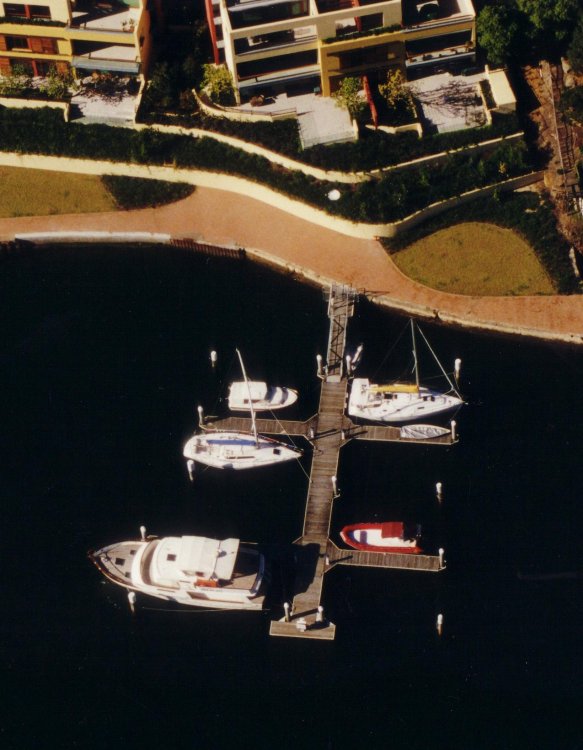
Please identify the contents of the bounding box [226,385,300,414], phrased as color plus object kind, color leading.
white boat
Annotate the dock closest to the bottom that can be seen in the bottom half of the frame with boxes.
[157,375,455,640]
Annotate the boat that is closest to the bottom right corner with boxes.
[339,520,430,553]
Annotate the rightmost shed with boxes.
[485,70,516,125]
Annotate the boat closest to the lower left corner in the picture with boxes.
[87,528,270,606]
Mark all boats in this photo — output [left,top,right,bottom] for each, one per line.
[186,354,305,476]
[226,385,300,414]
[339,520,430,553]
[87,528,270,606]
[350,320,466,423]
[398,426,450,439]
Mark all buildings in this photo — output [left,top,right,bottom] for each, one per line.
[0,0,169,91]
[199,0,478,111]
[485,70,516,125]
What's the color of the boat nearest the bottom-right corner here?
red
